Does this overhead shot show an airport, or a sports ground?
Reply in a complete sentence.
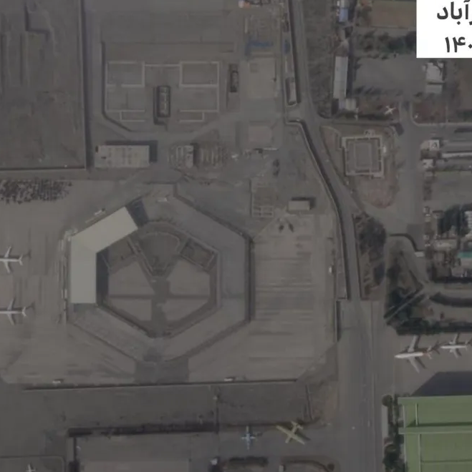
This image shows an airport.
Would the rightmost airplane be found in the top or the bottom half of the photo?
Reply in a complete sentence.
Seen from above, the rightmost airplane lies in the bottom half of the view.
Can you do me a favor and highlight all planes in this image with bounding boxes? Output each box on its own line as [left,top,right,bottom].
[395,334,432,374]
[0,246,22,273]
[385,105,394,114]
[441,333,470,360]
[276,423,305,445]
[240,427,255,449]
[0,299,25,325]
